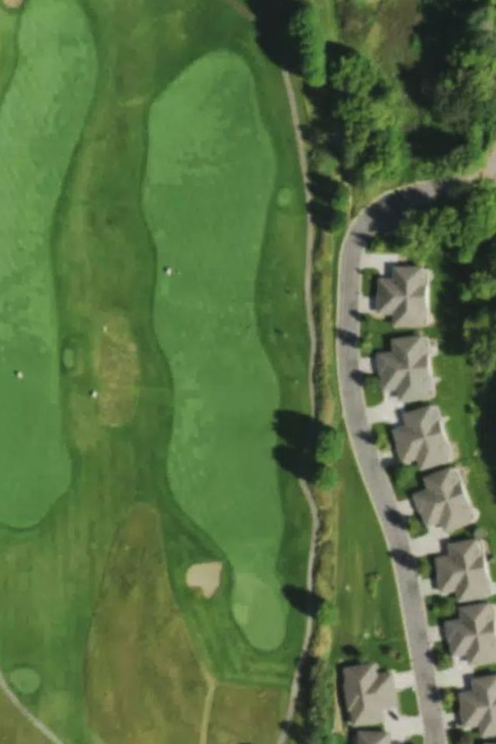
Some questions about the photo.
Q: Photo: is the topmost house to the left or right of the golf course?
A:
to its right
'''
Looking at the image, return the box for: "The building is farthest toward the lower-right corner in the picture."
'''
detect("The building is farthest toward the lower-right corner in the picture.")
[459,676,496,739]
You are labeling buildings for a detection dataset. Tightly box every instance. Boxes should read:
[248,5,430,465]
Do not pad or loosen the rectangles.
[459,676,496,739]
[443,603,496,668]
[354,730,405,744]
[411,468,474,535]
[389,403,451,470]
[377,336,434,400]
[375,266,430,326]
[337,664,394,728]
[433,537,493,602]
